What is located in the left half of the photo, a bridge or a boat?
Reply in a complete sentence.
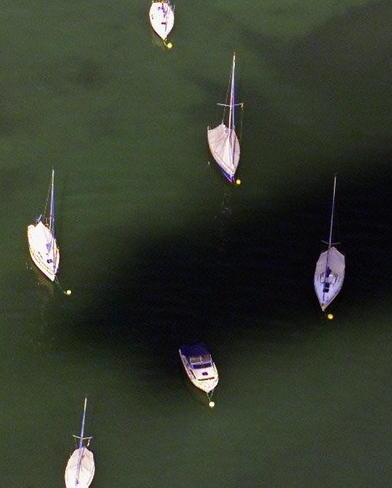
There is a boat in the left half of the photo.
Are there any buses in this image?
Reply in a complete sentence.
No, there is no bus in the image.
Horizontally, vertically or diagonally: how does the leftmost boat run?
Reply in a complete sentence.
What the image shows is the leftmost boat lying vertically.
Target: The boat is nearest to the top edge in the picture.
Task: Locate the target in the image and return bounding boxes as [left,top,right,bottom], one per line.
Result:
[150,0,176,45]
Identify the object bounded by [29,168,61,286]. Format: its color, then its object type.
white boat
